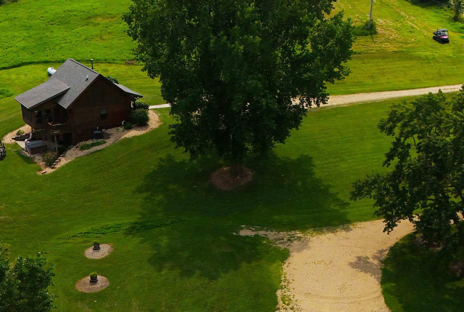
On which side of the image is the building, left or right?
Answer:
left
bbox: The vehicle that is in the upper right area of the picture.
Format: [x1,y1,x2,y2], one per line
[432,25,449,44]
